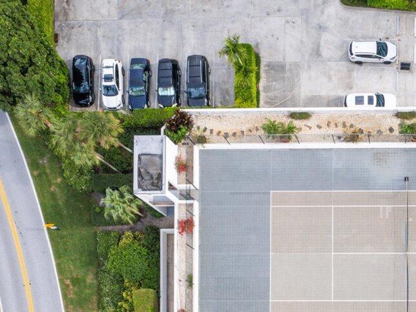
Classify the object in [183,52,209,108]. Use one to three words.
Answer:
car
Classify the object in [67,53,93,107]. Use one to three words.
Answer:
car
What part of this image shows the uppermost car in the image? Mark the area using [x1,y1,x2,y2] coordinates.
[348,37,397,62]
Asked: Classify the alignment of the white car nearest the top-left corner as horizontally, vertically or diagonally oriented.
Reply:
vertically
